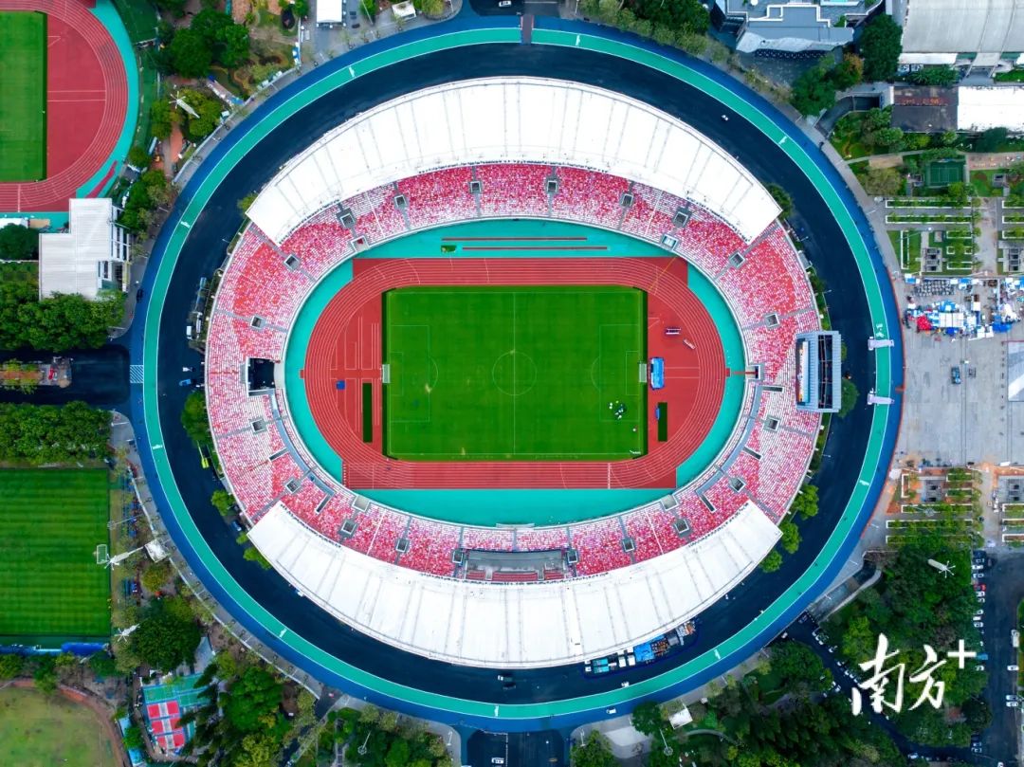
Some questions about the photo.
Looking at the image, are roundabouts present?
No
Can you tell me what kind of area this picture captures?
sports ground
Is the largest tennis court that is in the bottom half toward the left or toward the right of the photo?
left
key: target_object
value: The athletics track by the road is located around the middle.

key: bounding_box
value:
[285,222,754,525]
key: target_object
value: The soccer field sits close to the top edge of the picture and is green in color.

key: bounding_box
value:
[0,11,47,181]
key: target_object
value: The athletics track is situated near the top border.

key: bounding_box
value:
[0,0,138,230]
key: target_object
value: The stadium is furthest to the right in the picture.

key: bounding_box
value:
[205,78,820,669]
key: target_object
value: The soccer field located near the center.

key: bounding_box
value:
[382,285,648,461]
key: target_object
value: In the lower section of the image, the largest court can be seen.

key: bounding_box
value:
[143,673,214,745]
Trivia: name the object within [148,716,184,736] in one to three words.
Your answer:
sports court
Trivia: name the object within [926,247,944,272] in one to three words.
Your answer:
building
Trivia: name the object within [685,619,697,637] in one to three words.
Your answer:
vehicle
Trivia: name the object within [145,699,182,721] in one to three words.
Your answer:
sports court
